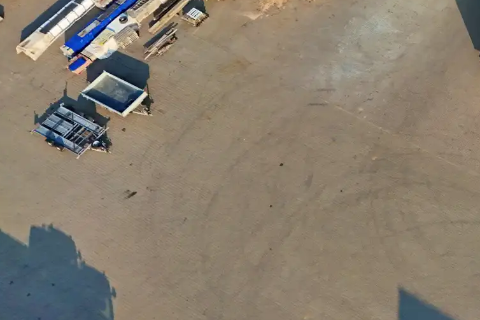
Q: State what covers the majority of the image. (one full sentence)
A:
The scene is dominated by paved ground.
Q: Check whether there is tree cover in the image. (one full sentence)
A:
No, the scene doesn't show any tree cover.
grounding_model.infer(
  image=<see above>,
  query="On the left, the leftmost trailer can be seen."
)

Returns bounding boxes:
[32,104,111,161]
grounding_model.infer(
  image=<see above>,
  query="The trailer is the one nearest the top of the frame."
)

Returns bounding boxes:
[81,70,156,119]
